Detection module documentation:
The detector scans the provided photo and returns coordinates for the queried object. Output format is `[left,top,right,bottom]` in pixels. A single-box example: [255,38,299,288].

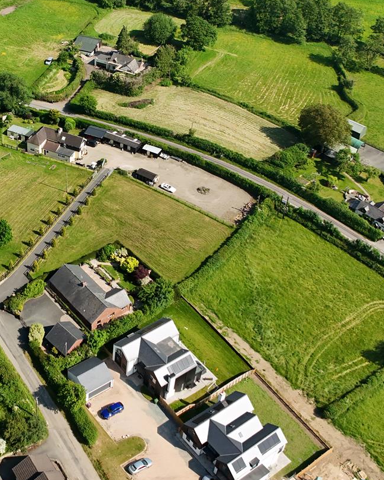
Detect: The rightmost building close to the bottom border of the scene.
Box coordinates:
[183,384,288,480]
